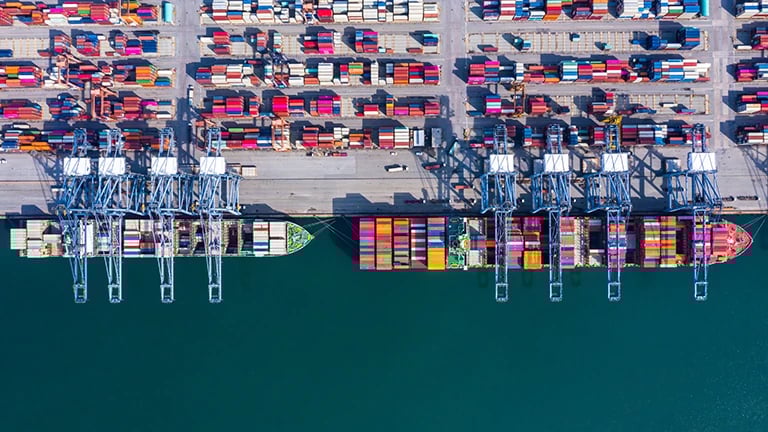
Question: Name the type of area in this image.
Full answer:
It's a port.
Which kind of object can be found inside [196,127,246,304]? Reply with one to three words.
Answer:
container crane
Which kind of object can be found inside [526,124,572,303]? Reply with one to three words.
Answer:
container crane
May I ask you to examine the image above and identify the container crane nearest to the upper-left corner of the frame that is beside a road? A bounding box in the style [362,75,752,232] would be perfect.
[57,55,84,93]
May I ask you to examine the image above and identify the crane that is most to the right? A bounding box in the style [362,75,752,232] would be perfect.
[656,122,728,302]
